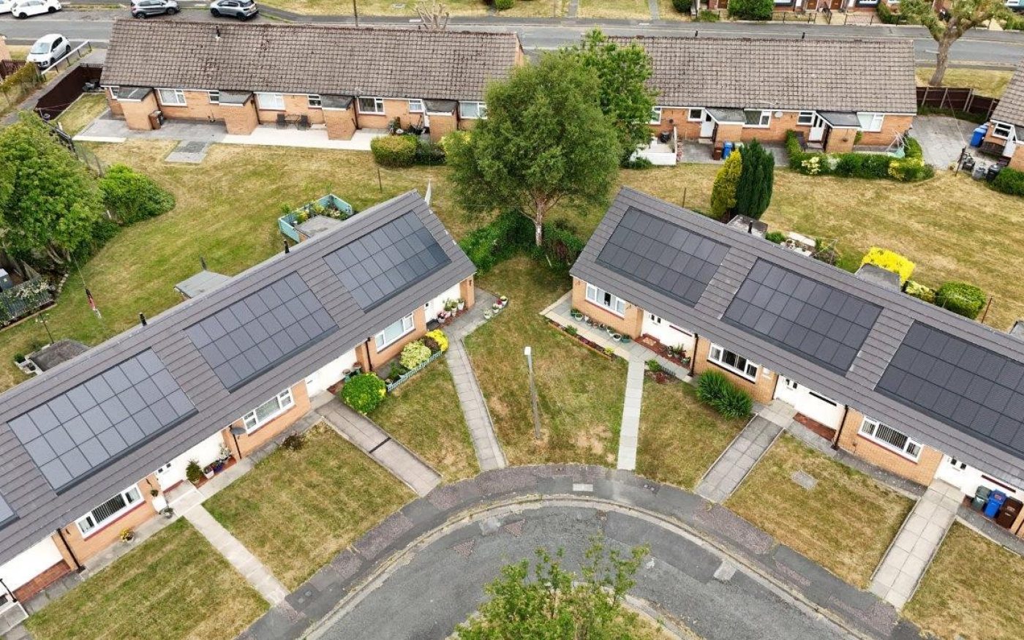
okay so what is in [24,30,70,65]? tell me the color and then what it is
white car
